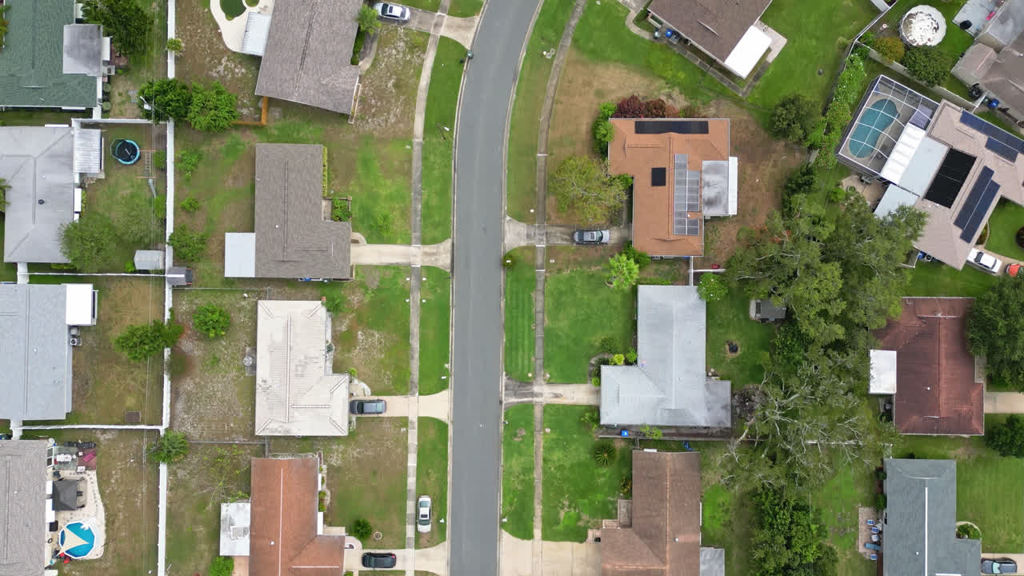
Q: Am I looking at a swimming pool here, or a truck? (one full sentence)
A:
It is a swimming pool that can be seen here.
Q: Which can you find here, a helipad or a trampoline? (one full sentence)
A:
This aerial view contains a trampoline.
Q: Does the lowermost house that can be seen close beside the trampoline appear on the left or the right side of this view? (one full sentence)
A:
The lowermost house that can be seen close beside the trampoline sits on the left side.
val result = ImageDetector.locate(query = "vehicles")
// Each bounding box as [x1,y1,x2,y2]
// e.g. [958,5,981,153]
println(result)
[416,493,433,531]
[350,398,387,415]
[1002,262,1024,280]
[966,247,1004,274]
[361,549,398,569]
[981,556,1018,575]
[375,3,411,23]
[572,228,610,246]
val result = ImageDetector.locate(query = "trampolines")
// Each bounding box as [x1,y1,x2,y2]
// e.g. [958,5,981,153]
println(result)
[107,136,144,166]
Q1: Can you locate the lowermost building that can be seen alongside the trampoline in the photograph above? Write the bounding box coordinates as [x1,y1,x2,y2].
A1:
[0,126,107,263]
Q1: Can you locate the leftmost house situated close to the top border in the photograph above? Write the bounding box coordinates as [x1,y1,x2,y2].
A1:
[0,0,111,109]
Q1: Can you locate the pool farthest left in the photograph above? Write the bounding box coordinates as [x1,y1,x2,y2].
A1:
[60,520,98,557]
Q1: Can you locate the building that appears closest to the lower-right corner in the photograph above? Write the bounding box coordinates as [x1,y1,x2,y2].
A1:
[876,457,981,576]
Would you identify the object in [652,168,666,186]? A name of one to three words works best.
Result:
solar panel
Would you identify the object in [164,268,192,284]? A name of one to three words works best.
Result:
shed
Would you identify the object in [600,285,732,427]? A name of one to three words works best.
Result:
house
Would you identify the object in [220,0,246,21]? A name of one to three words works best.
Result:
swimming pool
